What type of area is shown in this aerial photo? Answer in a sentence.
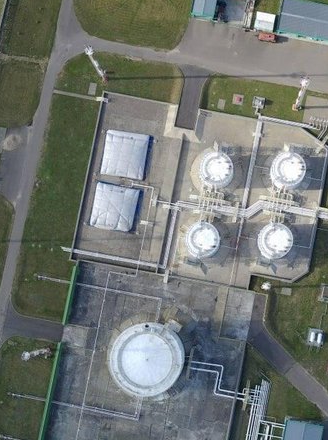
The picture captures an industrial area.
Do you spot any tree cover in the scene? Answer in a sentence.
No, there's no tree cover in this view.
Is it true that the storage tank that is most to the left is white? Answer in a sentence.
Yes, the storage tank that is most to the left is white.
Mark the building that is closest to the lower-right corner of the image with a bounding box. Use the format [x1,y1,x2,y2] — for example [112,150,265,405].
[281,417,324,440]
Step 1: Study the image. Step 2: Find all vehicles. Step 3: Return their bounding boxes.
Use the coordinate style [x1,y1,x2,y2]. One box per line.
[218,1,227,17]
[259,31,276,42]
[244,0,256,27]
